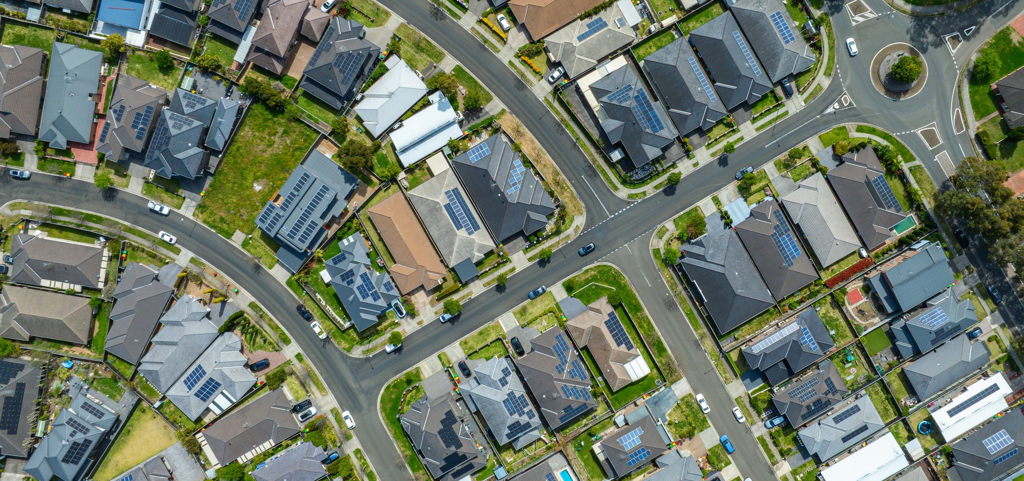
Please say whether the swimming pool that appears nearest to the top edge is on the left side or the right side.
right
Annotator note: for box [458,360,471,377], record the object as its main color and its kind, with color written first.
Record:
black vehicle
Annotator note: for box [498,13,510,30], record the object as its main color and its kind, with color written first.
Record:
white vehicle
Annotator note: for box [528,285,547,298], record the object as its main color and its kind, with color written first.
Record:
blue vehicle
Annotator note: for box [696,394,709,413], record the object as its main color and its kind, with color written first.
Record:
white vehicle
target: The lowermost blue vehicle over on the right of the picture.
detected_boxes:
[719,434,734,456]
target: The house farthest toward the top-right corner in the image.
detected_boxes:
[992,67,1024,123]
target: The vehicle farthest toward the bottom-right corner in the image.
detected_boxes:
[965,325,986,339]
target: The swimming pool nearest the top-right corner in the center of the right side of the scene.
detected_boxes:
[893,214,918,236]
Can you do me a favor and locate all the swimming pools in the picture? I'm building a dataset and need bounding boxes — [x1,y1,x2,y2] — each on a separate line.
[893,214,918,236]
[559,468,573,481]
